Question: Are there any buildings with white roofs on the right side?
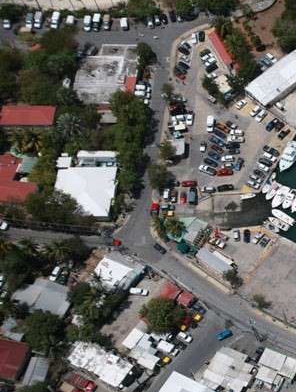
Yes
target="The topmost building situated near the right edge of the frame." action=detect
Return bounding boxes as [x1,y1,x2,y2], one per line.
[245,49,296,111]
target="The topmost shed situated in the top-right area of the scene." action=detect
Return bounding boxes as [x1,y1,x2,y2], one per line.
[208,30,232,70]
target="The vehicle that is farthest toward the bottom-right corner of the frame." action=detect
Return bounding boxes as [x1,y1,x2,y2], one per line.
[270,375,285,392]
